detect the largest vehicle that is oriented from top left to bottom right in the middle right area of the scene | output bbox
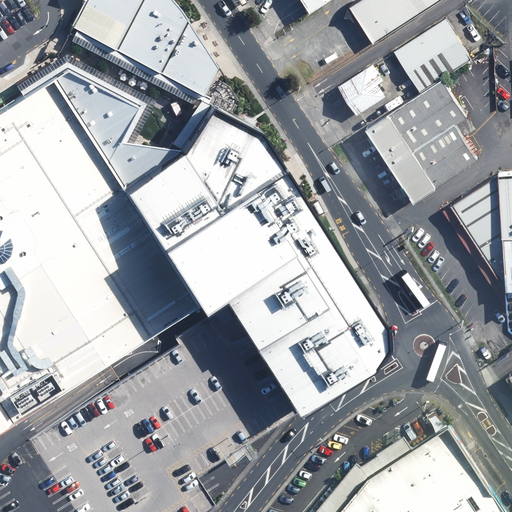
[400,272,429,308]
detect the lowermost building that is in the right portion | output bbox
[314,424,506,512]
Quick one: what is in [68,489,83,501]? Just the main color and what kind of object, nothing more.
white vehicle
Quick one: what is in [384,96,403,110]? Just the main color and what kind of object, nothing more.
white camper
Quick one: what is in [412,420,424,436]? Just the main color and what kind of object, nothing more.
red vehicle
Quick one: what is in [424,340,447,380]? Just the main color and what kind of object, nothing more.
white bus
